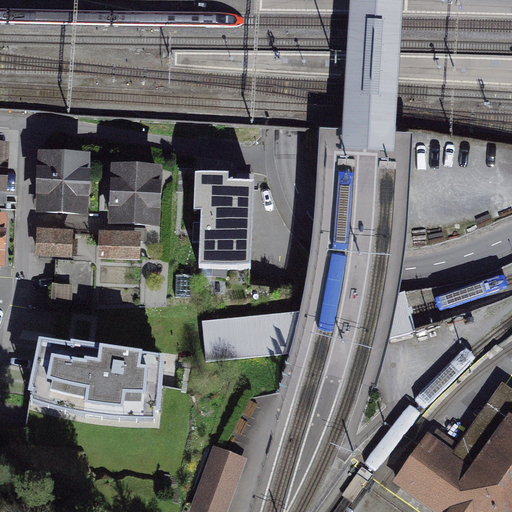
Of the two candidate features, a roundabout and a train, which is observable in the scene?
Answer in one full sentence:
There is a train in the scene.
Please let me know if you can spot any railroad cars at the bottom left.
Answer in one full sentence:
No, no railroad car appears at the bottom left.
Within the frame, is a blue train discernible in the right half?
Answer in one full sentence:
Yes, you'll find a blue train in the right half.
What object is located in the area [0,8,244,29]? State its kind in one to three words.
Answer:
train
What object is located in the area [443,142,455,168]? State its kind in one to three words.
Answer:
vehicle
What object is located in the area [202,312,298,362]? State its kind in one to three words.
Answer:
shed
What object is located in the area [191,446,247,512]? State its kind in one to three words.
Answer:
house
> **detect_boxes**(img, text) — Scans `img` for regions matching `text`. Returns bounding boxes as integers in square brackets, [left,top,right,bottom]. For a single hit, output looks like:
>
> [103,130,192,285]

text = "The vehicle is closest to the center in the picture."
[261,188,274,214]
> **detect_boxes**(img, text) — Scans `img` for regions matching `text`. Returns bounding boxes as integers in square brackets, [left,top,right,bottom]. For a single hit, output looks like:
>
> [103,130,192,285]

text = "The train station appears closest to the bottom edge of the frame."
[258,128,412,512]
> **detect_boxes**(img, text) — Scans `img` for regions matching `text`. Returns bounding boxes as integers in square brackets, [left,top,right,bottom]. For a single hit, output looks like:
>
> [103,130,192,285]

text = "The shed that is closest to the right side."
[454,382,512,461]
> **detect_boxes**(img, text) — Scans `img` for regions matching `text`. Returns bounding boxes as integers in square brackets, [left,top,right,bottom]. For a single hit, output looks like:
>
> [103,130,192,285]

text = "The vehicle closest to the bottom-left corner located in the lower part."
[6,356,32,368]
